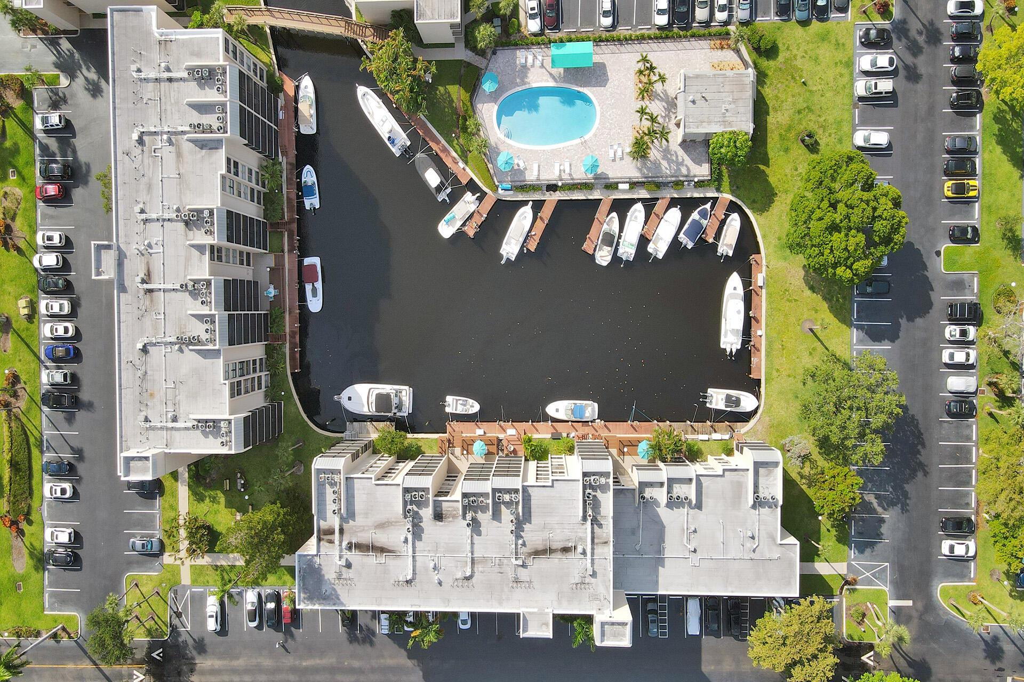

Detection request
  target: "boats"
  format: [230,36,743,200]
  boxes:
[441,185,485,237]
[438,395,481,414]
[332,385,414,416]
[353,79,412,166]
[694,387,759,413]
[644,199,678,268]
[619,198,647,272]
[419,154,451,211]
[546,400,599,421]
[718,213,742,266]
[677,197,713,256]
[302,164,321,219]
[593,212,621,270]
[303,257,324,312]
[498,200,532,272]
[719,272,746,363]
[298,74,317,135]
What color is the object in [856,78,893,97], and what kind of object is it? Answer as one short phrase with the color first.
white vehicle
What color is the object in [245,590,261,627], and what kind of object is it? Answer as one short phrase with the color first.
white car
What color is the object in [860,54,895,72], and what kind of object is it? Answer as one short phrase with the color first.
white car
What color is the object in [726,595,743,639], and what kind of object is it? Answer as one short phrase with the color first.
black vehicle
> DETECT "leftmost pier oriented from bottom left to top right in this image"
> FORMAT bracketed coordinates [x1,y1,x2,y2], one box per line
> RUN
[464,193,497,238]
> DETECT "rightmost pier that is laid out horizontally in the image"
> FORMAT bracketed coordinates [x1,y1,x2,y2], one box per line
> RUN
[654,422,749,434]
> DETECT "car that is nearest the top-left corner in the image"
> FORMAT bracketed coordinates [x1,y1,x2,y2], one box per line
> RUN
[36,113,68,131]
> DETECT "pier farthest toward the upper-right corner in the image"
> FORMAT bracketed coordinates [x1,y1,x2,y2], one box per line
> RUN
[704,196,736,241]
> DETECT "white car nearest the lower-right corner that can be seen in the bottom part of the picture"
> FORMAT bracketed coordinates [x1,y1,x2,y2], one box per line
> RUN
[941,540,975,558]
